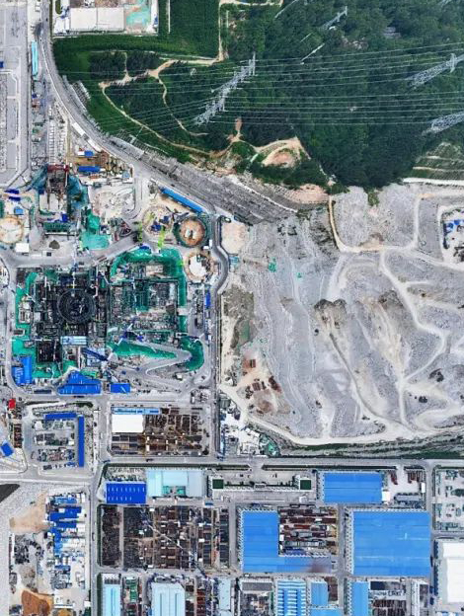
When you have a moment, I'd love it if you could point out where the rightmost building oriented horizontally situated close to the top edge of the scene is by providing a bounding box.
[70,8,124,32]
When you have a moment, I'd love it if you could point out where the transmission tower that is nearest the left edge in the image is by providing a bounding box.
[190,89,225,129]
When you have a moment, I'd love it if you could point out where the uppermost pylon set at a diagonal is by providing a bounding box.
[323,5,347,31]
